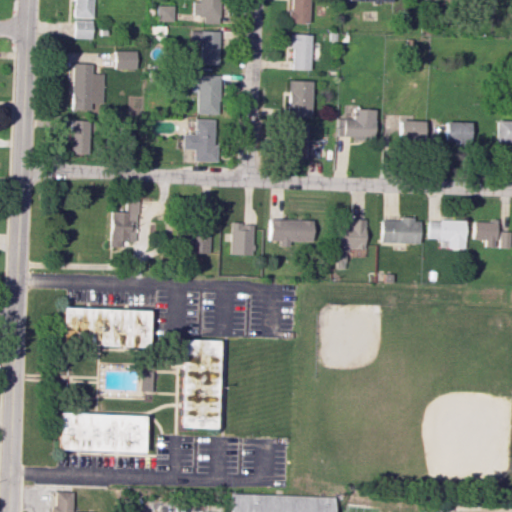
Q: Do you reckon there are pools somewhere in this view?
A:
Yes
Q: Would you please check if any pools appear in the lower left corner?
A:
Yes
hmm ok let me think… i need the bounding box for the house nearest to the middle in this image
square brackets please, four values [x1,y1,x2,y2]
[229,222,256,256]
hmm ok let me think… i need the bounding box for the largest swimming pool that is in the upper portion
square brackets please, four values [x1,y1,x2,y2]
[150,120,184,137]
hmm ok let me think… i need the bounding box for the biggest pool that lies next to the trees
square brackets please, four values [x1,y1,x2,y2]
[100,362,146,400]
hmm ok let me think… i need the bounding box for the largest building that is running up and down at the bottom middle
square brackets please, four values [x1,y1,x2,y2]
[180,340,224,430]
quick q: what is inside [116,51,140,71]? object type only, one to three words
building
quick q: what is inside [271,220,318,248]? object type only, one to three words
house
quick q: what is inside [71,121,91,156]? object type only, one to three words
house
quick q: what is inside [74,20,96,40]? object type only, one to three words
building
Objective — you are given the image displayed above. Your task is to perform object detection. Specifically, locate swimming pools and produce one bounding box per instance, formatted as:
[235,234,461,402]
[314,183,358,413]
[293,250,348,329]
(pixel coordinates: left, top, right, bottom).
[150,120,184,137]
[150,46,162,60]
[100,362,146,400]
